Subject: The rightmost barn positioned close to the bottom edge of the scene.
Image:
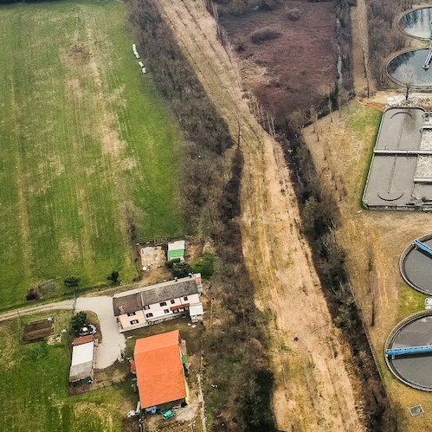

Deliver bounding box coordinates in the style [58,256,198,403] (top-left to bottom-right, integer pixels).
[131,336,196,416]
